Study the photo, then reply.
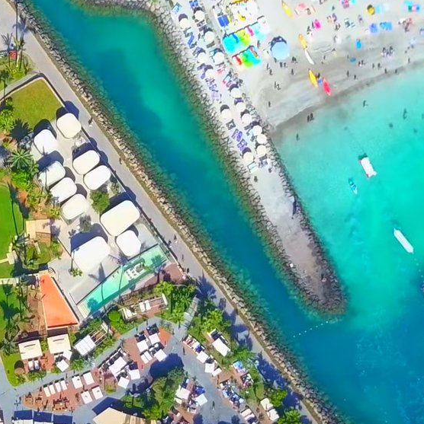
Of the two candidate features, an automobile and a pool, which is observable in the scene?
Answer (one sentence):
This aerial view contains a pool.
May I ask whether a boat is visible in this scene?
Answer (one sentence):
Yes, a boat appears in the view.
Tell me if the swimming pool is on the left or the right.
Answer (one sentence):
It is on the left.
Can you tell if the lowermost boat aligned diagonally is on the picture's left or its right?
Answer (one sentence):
The lowermost boat aligned diagonally is on the right side of the image.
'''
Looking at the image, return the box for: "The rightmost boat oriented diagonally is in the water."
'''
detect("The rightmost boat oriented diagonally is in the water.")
[393,227,416,254]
